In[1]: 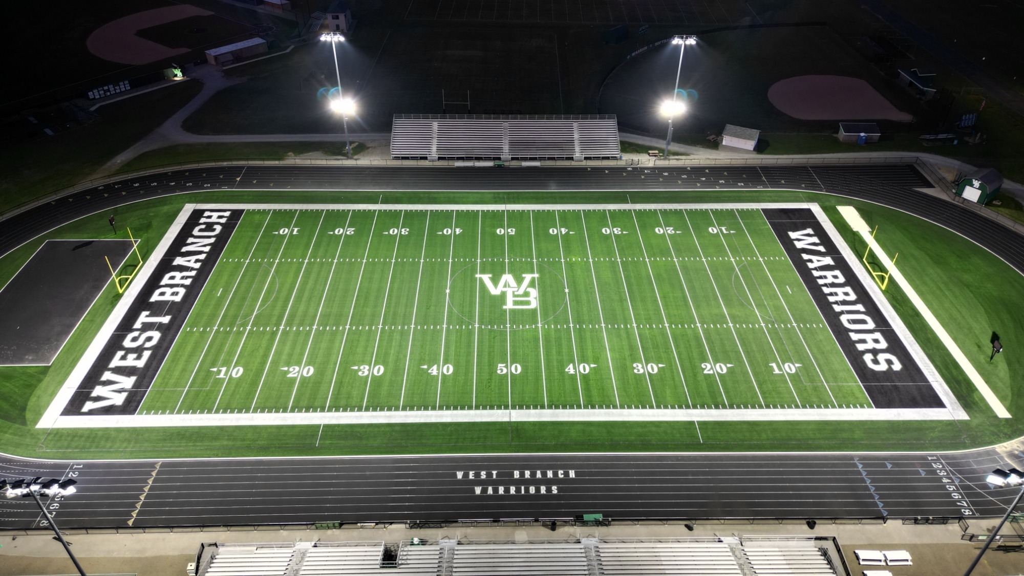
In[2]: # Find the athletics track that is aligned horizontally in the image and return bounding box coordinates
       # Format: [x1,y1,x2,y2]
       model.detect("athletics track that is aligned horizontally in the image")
[0,163,1024,533]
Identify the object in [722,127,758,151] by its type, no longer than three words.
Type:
shed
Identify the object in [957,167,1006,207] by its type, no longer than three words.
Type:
barn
